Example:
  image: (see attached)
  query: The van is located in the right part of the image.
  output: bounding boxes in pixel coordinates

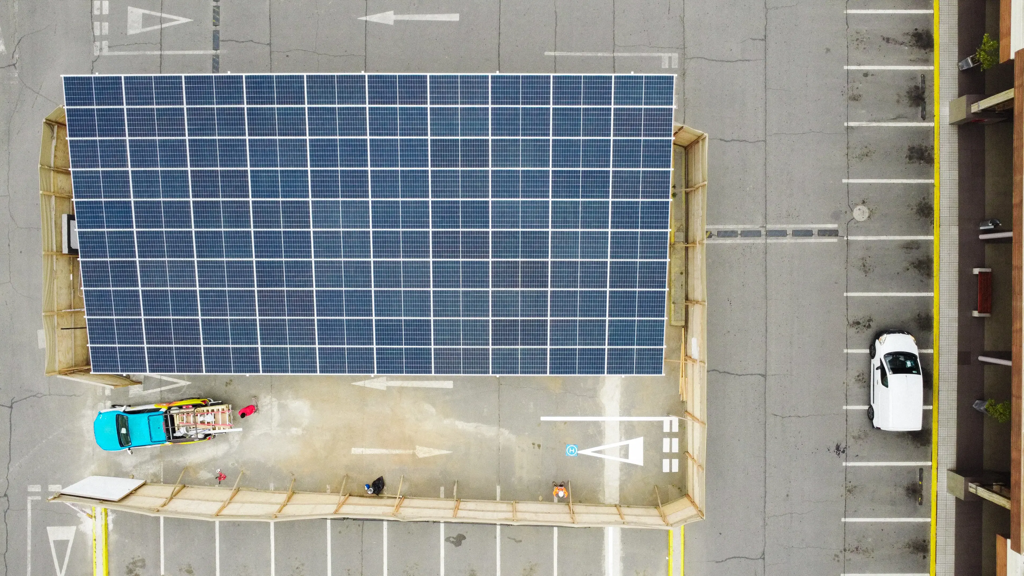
[865,328,926,435]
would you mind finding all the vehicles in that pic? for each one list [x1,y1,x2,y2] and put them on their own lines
[94,391,227,451]
[865,328,926,435]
